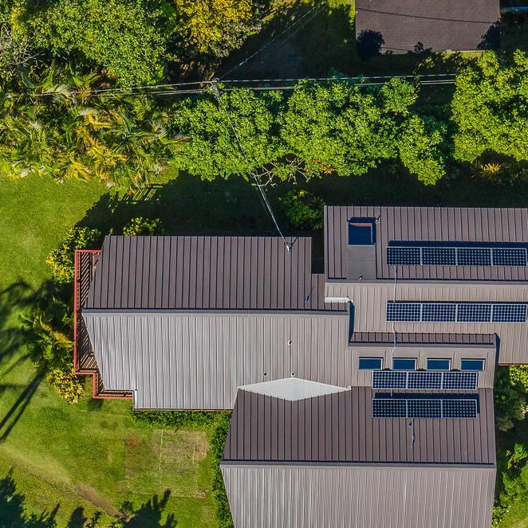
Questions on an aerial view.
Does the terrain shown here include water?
No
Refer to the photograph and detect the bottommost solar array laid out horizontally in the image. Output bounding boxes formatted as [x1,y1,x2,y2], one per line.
[373,398,477,418]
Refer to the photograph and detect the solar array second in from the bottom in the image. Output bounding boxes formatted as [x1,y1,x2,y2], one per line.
[371,371,477,390]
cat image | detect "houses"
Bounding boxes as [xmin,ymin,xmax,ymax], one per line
[354,0,503,56]
[81,206,528,528]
